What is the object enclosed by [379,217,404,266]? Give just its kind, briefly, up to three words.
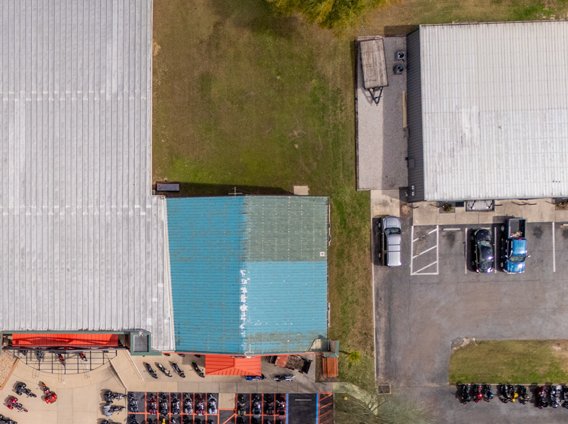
car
